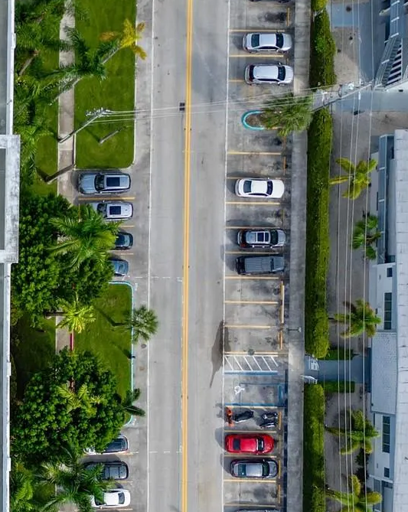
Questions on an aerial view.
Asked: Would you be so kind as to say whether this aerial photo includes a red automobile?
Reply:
Yes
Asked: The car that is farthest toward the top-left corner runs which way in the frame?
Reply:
horizontally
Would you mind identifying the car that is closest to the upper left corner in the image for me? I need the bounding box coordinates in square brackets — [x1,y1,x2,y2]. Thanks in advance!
[79,171,132,194]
